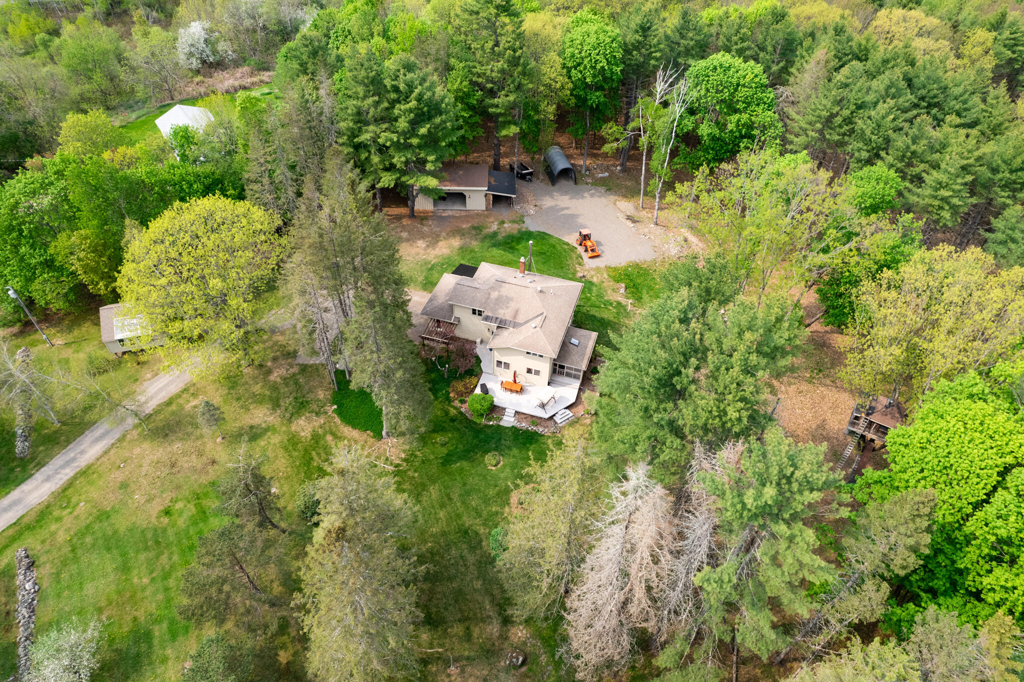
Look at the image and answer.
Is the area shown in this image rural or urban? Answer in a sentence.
The land in this view is best described as rural.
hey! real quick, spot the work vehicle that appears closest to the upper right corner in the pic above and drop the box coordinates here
[574,227,601,258]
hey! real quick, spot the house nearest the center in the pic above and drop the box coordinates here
[419,242,598,388]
